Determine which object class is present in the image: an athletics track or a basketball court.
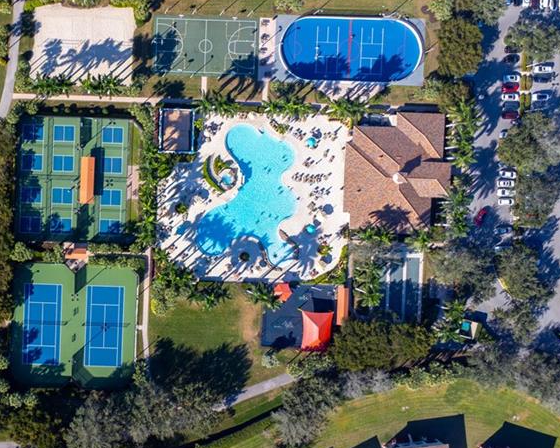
basketball court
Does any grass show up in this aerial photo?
Yes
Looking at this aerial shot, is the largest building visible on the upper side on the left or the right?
right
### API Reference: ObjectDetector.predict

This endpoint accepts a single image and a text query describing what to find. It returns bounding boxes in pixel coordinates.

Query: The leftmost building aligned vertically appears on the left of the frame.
[80,157,95,204]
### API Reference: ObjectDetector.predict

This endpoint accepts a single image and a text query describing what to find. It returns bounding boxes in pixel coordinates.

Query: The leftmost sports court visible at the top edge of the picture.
[27,4,136,81]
